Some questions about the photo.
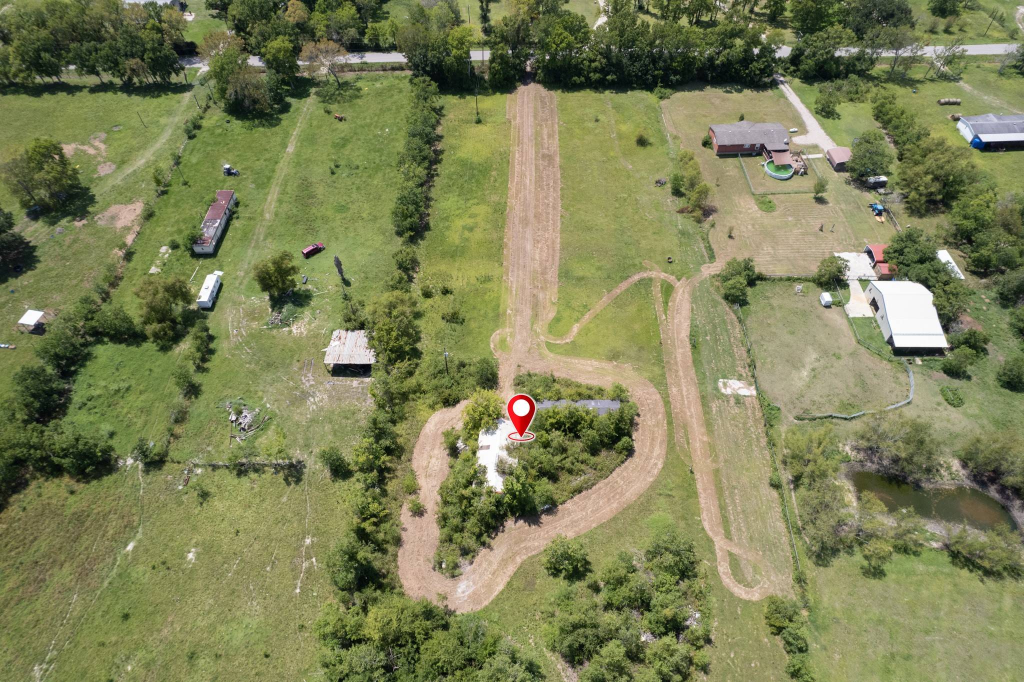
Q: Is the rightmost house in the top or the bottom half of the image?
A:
top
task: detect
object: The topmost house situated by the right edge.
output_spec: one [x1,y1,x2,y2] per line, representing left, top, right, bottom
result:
[960,110,1024,148]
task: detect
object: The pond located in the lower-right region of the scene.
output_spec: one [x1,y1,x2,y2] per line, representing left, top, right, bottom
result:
[846,470,1020,534]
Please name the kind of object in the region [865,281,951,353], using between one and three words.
barn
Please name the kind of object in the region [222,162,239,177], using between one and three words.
work vehicle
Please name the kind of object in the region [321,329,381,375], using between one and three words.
shed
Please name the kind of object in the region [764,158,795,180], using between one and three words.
swimming pool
